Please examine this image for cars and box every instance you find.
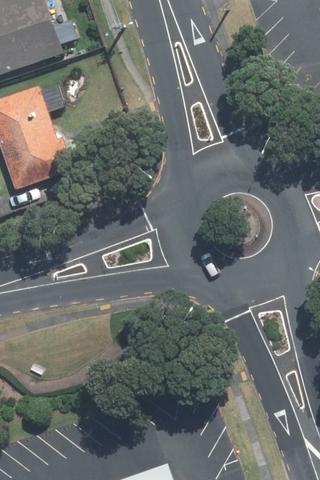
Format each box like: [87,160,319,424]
[202,252,220,278]
[8,186,41,206]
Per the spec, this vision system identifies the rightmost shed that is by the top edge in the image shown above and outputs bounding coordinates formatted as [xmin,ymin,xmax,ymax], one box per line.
[54,20,78,44]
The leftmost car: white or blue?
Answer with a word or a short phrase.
white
